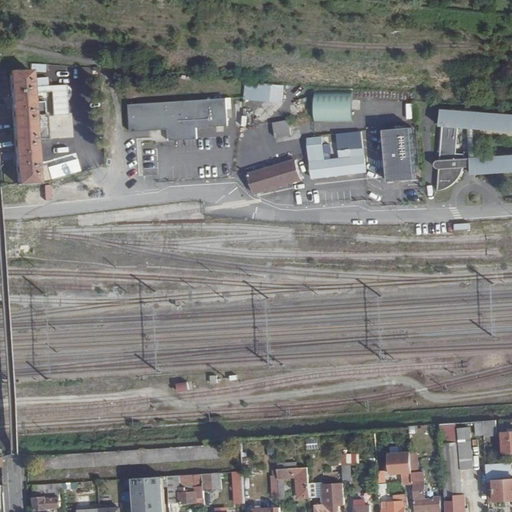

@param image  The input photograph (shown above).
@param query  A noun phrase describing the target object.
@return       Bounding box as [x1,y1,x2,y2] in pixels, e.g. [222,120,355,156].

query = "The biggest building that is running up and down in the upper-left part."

[11,70,46,183]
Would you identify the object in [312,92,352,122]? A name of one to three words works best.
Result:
hangar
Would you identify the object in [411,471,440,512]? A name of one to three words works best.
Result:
house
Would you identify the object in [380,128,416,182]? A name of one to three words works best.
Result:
building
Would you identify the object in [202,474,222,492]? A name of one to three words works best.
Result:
house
